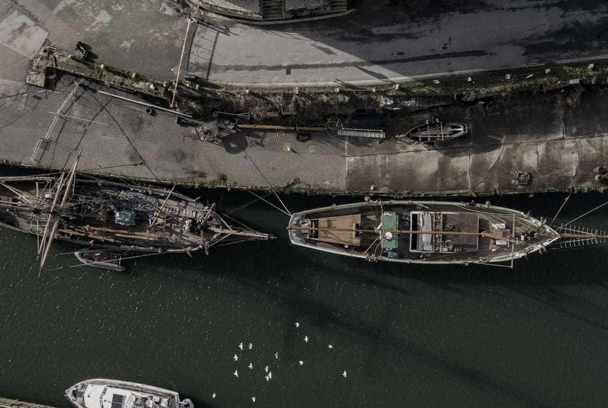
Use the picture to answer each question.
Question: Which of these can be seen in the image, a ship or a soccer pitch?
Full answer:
Of the two, only a ship appears.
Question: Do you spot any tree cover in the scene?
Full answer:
No, there is no tree cover in the image.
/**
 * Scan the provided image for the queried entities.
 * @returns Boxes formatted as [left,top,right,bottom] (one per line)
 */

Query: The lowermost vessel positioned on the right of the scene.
[287,195,608,268]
